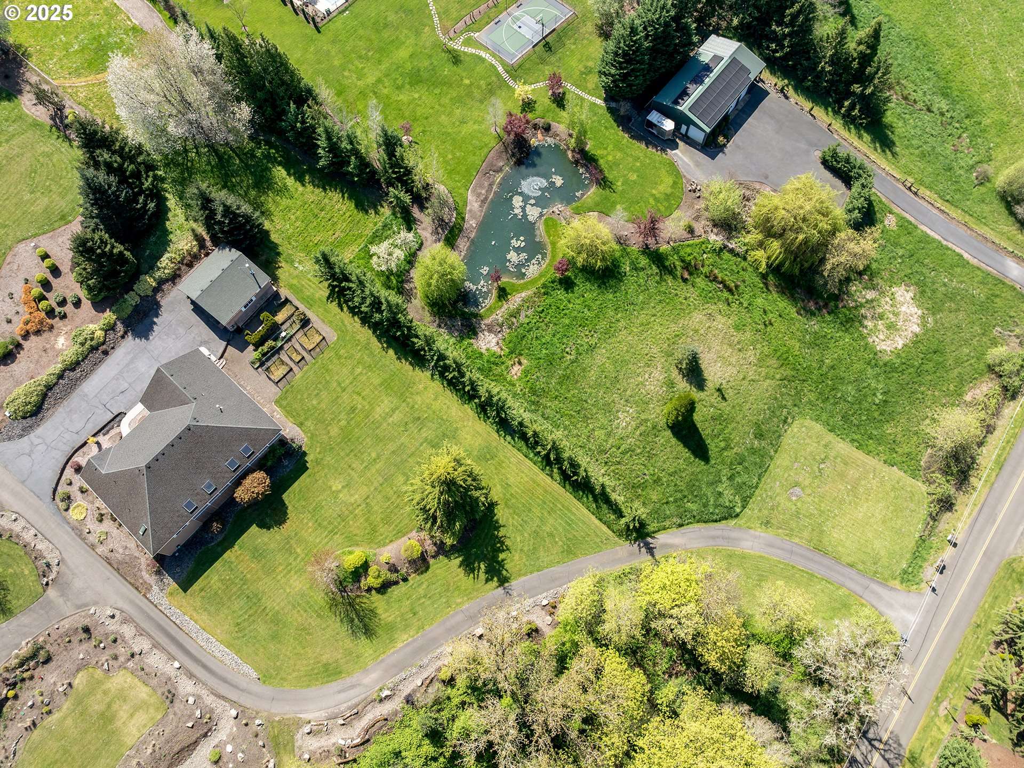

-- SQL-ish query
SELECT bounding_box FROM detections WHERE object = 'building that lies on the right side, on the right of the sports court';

[656,29,766,143]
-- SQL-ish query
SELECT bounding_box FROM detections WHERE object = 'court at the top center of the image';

[478,0,578,64]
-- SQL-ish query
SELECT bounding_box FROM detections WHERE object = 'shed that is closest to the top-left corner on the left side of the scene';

[181,241,279,327]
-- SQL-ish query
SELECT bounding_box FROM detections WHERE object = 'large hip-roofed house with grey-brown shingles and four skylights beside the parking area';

[78,343,290,557]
